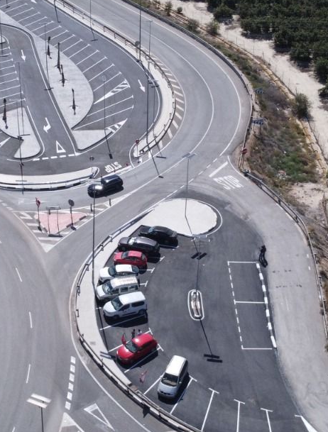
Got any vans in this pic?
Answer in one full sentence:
Yes, the image includes a van.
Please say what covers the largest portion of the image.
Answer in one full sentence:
The largest share of the image is taken up by paved ground.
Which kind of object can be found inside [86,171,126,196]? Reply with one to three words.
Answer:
car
